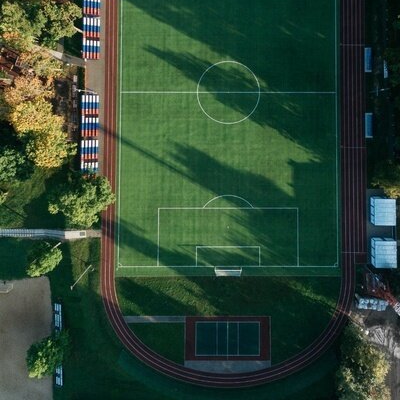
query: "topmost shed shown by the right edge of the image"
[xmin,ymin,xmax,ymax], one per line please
[370,197,397,227]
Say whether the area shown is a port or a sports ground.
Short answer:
sports ground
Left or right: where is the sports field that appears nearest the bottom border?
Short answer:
left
